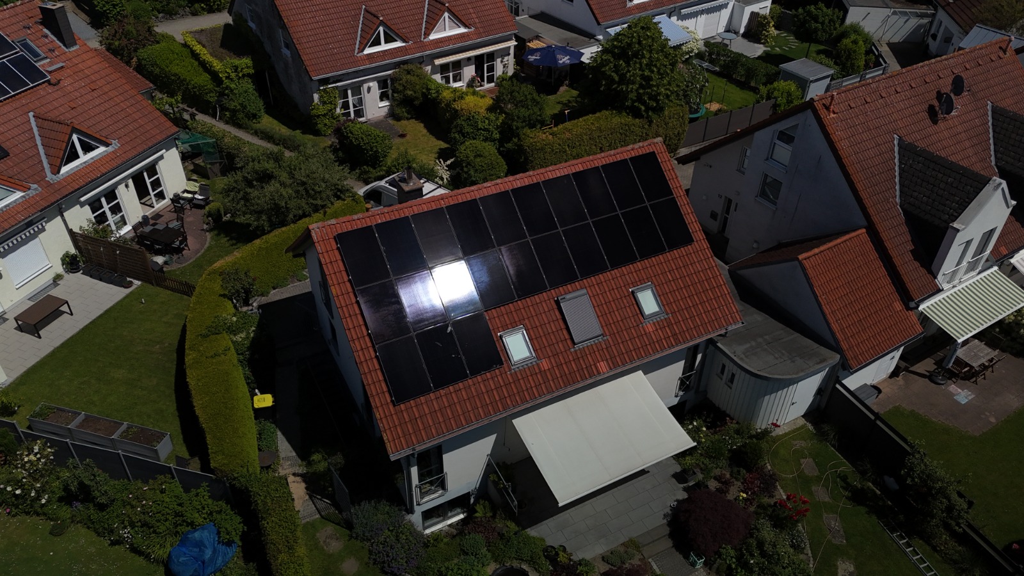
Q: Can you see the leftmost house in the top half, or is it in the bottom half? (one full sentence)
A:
Seen from above, the leftmost house lies in the top half of the view.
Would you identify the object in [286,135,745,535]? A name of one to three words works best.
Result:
house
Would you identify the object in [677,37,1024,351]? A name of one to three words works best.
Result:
house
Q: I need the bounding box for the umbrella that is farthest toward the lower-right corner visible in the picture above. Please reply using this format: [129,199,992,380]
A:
[924,327,958,387]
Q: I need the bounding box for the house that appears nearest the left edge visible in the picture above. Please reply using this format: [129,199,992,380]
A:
[0,0,194,311]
